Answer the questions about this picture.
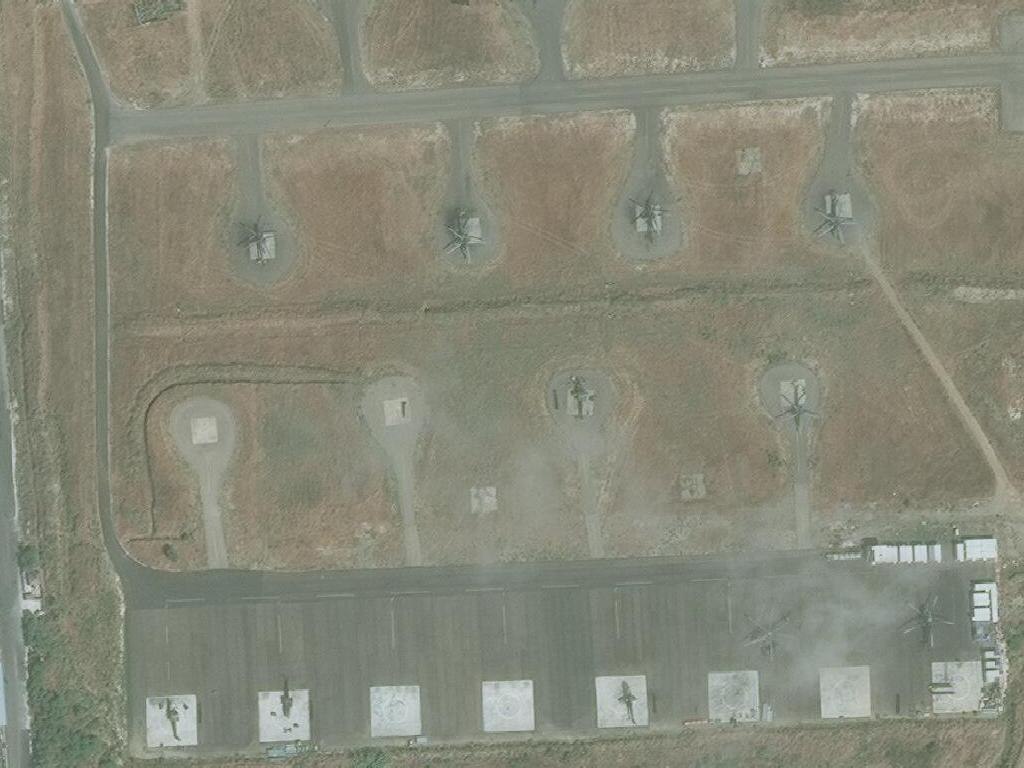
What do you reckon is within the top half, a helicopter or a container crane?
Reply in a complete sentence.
Looking within the top half, you will find a helicopter.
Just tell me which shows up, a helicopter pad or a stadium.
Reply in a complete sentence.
There is a helicopter pad in the scene.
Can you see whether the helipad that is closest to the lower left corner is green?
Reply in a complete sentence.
No, from above the helipad that is closest to the lower left corner looks white.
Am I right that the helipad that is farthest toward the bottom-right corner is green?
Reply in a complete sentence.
No, from above the helipad that is farthest toward the bottom-right corner looks white.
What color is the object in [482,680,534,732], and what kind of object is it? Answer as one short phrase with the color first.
white helipad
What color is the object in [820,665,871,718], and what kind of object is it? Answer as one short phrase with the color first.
white helipad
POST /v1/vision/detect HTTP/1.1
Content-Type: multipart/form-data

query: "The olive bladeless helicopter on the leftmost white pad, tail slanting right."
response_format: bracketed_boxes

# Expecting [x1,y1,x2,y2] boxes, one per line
[164,697,181,740]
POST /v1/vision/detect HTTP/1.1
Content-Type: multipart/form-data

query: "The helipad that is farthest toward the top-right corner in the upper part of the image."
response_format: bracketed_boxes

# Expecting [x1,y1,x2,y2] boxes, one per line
[825,194,852,220]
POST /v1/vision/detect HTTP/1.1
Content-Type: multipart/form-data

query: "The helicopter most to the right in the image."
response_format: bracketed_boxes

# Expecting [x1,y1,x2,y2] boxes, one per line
[906,588,956,646]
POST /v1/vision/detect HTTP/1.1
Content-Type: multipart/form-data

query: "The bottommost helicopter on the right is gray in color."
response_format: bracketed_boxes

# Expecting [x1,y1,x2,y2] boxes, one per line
[620,682,638,726]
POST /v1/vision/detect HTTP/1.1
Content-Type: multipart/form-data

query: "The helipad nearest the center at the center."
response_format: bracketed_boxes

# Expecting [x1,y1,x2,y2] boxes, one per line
[568,389,593,416]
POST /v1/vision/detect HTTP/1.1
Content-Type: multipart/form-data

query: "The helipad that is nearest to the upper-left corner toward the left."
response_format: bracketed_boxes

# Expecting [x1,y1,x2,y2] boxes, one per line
[249,232,275,260]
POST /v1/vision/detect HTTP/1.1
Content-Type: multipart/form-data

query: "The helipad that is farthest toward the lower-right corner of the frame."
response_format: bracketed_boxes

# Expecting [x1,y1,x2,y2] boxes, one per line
[932,661,983,713]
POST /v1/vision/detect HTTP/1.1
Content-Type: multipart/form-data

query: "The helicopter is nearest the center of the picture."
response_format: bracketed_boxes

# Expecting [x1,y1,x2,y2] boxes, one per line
[570,375,586,420]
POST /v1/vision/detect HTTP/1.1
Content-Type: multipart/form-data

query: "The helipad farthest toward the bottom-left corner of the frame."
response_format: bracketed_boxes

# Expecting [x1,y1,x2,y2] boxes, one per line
[146,695,197,747]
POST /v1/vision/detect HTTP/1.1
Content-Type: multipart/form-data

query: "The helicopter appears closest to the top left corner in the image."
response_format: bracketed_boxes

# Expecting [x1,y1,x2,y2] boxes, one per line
[237,211,286,268]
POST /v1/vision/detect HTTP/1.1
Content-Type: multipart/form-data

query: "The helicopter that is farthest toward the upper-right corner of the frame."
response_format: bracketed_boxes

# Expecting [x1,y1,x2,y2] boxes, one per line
[813,192,862,248]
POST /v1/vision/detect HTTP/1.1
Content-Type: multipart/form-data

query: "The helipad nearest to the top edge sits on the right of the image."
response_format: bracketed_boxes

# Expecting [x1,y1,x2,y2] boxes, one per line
[738,149,762,174]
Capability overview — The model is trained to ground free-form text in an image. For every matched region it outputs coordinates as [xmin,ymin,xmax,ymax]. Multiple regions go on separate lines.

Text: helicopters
[906,588,956,646]
[771,378,822,436]
[745,598,796,660]
[620,682,638,726]
[626,186,675,247]
[164,697,181,740]
[441,208,490,264]
[237,211,286,268]
[278,677,295,720]
[813,192,862,248]
[570,375,586,420]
